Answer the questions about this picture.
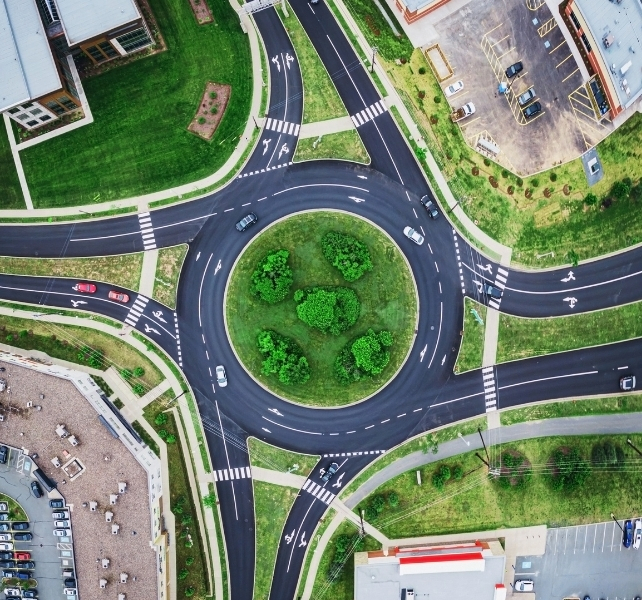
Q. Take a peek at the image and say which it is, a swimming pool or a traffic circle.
traffic circle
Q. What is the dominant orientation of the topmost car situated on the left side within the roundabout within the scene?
on a diagonal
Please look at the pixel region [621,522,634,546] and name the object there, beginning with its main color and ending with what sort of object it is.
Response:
blue vehicle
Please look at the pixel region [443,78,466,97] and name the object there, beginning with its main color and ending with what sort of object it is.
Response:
white car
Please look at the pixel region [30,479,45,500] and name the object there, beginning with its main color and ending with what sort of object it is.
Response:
black car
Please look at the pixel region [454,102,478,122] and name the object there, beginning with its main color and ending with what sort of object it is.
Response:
white vehicle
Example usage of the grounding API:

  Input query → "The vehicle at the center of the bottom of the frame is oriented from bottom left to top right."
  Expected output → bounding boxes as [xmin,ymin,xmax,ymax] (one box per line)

[321,460,340,483]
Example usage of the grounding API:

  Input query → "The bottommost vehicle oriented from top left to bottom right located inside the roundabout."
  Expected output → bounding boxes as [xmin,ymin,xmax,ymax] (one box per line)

[403,225,425,245]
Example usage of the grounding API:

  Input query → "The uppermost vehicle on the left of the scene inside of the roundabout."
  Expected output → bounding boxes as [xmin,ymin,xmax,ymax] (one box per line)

[235,212,258,232]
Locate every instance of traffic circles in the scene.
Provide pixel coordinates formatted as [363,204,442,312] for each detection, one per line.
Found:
[180,163,463,454]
